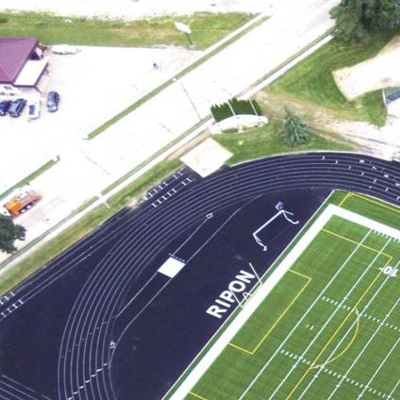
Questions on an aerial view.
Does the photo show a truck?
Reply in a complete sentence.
Yes, a truck can be made out from above.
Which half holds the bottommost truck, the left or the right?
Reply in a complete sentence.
The bottommost truck appears in the left half of the scene.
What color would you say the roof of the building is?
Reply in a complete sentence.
The roof over the building appears purple.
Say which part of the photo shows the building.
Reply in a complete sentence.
The building is in the top left part of the image.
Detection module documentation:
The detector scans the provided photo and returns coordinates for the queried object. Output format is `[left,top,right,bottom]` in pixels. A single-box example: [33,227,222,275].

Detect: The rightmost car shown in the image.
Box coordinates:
[46,92,60,110]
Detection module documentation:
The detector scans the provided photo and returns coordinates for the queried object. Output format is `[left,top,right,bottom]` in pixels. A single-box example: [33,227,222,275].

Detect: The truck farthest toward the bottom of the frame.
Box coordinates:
[1,189,48,223]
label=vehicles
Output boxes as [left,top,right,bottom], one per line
[25,98,41,119]
[10,97,27,117]
[0,98,12,116]
[46,92,60,110]
[1,189,48,223]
